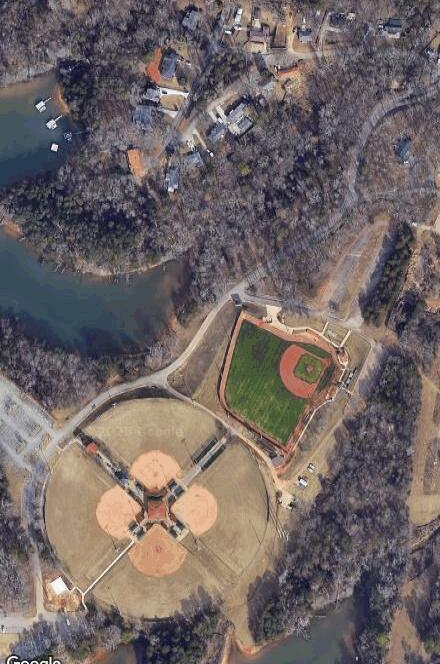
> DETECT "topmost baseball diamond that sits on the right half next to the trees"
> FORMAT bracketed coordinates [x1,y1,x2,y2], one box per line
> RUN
[218,311,342,451]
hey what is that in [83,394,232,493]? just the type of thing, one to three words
baseball field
